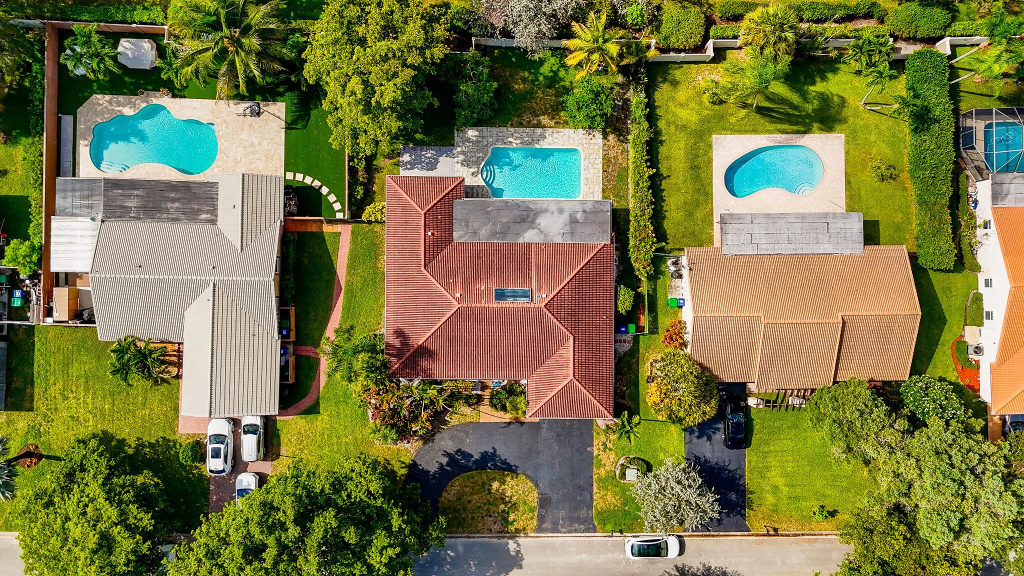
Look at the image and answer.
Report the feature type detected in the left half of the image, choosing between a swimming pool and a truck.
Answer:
swimming pool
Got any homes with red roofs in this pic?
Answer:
Yes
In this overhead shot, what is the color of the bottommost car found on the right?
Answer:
white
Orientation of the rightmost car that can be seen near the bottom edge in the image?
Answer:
horizontally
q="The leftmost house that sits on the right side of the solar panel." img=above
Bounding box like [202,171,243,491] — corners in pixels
[682,212,923,391]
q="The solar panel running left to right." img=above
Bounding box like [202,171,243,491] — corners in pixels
[494,287,531,304]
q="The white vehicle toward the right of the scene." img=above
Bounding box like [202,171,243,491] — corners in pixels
[626,536,682,564]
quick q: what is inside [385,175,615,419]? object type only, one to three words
house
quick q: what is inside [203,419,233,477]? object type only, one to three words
car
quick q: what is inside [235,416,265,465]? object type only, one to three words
car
